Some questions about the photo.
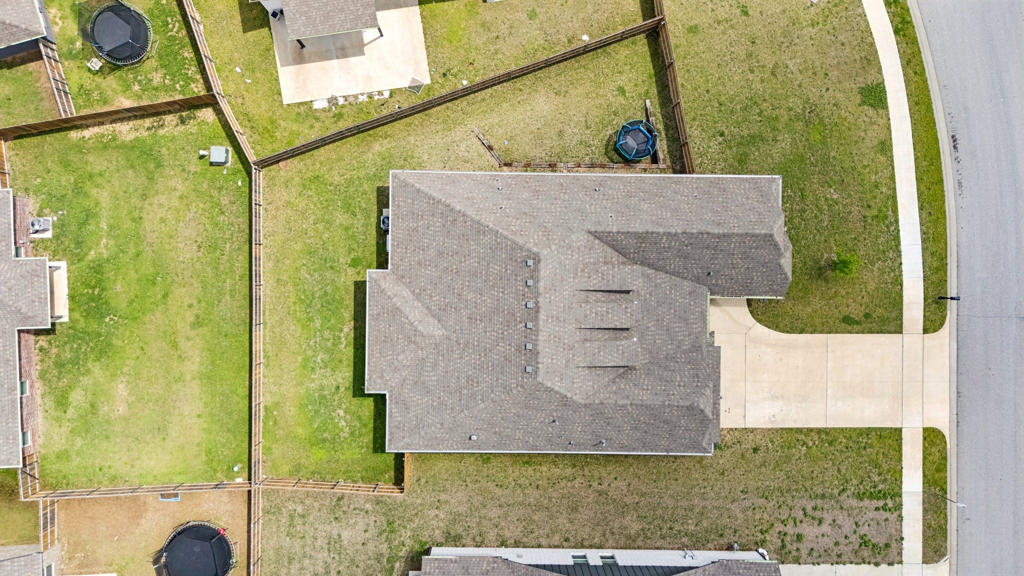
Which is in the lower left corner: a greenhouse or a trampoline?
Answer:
trampoline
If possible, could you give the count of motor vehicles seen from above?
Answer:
0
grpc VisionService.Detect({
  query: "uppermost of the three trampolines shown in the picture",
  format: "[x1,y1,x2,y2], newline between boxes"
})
[77,0,158,68]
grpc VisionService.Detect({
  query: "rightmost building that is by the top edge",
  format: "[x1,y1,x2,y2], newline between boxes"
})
[281,0,384,50]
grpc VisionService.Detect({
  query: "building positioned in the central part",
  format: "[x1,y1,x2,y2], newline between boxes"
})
[363,168,792,458]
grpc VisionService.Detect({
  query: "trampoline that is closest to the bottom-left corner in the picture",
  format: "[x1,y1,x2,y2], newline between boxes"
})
[149,520,239,576]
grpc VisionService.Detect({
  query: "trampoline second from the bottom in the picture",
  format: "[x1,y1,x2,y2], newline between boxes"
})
[616,119,658,161]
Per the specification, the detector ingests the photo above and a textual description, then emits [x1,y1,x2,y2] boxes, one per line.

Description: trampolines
[149,520,239,576]
[616,119,658,161]
[77,0,158,68]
